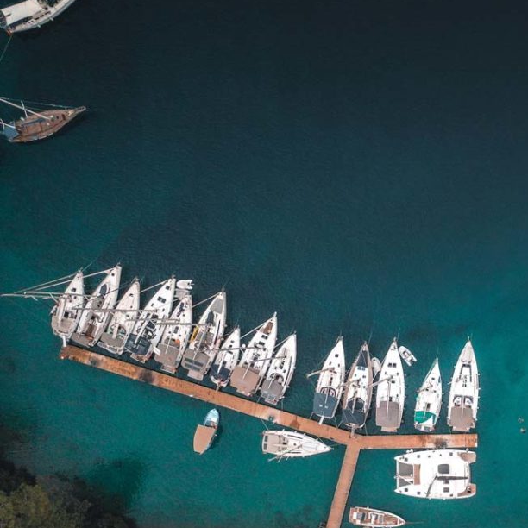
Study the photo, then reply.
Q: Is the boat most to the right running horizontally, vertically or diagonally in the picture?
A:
vertically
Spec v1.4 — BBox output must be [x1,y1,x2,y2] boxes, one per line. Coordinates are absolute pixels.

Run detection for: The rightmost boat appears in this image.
[445,330,482,432]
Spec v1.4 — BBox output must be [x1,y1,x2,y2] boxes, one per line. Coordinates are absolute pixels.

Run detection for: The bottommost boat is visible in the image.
[345,506,406,528]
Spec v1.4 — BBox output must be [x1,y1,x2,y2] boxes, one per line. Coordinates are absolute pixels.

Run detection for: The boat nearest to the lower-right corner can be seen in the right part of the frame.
[393,446,477,501]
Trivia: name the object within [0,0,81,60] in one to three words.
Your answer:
boat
